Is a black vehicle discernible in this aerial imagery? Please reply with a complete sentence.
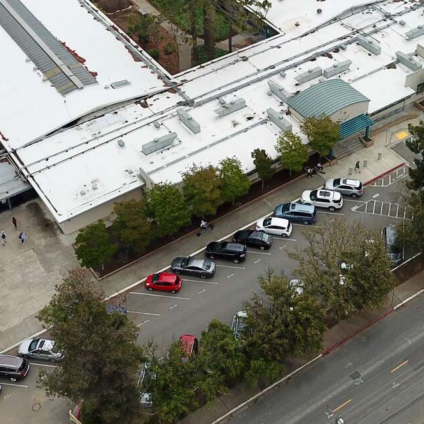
Yes, a black vehicle is visible in the scene.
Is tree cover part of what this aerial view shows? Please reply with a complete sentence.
Yes, tree cover can be seen from above here.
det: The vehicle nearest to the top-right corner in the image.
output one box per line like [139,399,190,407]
[326,177,365,196]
